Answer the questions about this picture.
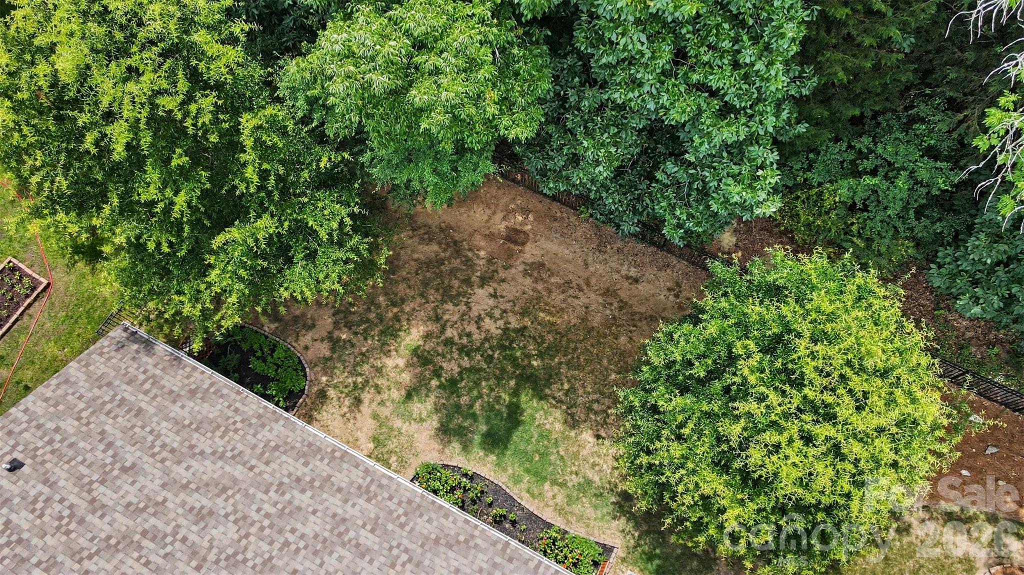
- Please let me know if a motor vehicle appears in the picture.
No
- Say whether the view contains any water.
No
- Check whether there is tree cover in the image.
Yes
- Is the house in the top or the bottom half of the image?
bottom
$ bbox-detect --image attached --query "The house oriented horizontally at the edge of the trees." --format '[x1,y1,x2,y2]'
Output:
[0,324,569,575]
